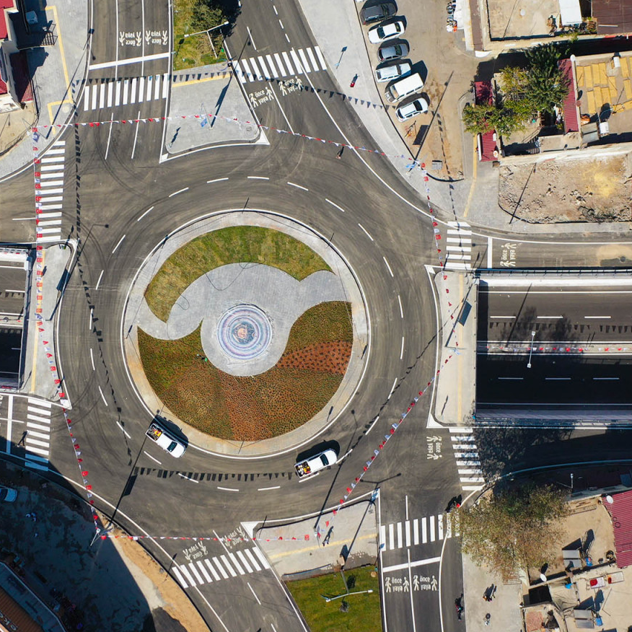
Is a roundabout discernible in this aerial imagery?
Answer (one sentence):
Yes, there's a roundabout down there.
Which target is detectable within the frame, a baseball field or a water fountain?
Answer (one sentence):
This aerial view contains a water fountain.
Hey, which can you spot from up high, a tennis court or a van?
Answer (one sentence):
Of the two, only a van appears.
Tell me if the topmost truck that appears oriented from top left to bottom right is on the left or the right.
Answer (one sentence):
The topmost truck that appears oriented from top left to bottom right appears in the left half of the scene.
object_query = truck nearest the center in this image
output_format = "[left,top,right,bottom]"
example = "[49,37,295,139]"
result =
[294,448,338,478]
